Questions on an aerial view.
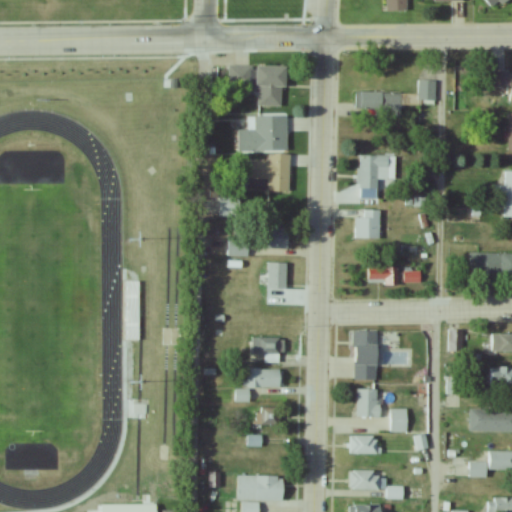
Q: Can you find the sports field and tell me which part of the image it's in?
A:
left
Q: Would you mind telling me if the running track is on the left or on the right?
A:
left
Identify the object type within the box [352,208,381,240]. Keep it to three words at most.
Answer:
house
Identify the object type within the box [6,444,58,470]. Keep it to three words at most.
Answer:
sports court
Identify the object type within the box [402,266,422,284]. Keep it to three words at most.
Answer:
building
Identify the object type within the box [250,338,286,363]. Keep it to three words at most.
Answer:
house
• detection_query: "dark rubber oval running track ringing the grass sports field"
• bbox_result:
[0,110,123,509]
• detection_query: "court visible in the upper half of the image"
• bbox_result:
[0,151,64,185]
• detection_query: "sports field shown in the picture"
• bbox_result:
[0,131,102,488]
